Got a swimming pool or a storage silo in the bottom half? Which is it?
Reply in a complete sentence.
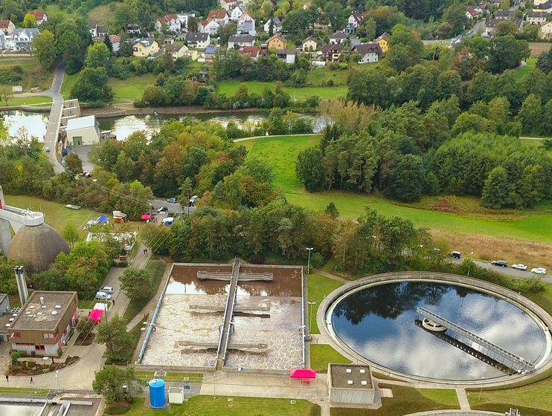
It is a storage silo that can be seen in the bottom half.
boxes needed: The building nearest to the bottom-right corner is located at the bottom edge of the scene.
[325,360,378,404]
